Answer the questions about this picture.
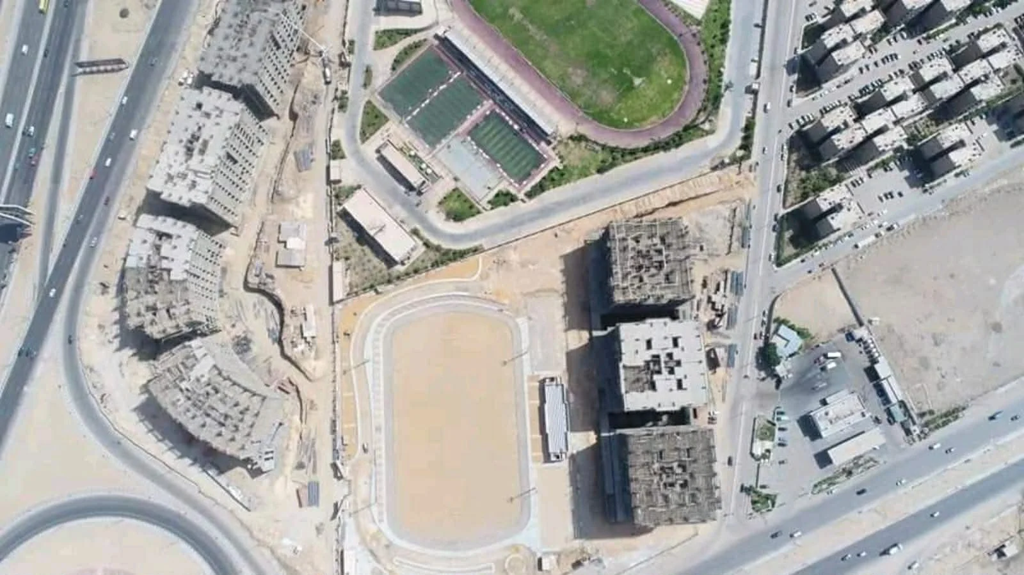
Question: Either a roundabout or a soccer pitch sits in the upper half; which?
soccer pitch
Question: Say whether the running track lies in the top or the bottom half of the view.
top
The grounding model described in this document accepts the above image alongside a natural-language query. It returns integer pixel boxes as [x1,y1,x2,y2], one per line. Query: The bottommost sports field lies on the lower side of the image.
[341,257,540,575]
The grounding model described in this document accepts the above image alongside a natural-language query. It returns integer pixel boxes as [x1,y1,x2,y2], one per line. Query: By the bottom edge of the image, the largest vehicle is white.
[883,543,905,556]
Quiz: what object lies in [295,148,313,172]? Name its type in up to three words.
shed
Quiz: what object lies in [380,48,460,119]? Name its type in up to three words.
soccer field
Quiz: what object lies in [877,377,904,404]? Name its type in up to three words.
building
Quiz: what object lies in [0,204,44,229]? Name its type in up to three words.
bridge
